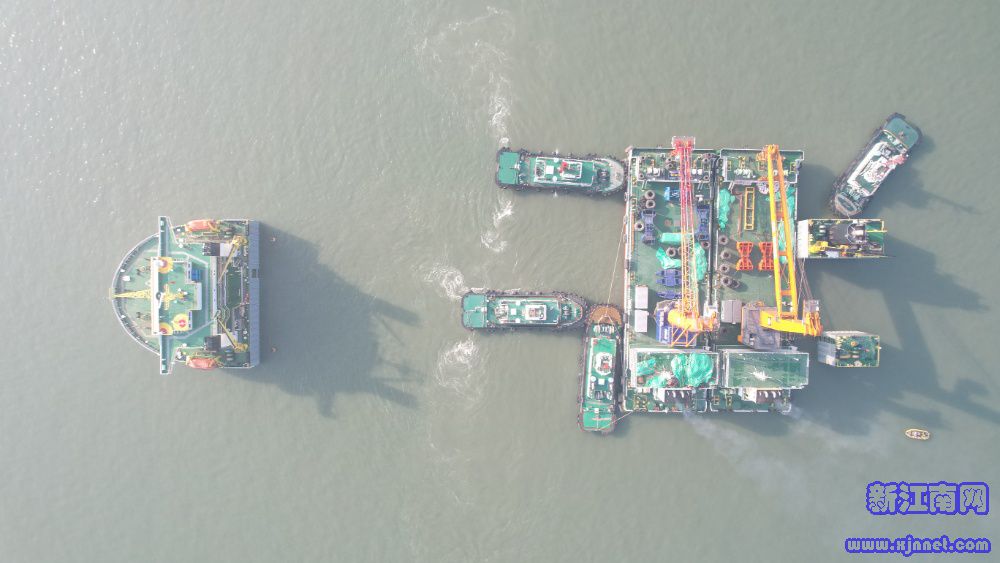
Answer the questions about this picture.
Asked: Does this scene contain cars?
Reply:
No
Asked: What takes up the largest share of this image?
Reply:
water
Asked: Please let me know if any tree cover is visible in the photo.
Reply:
No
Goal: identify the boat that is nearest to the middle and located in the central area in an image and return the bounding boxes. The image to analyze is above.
[460,289,591,333]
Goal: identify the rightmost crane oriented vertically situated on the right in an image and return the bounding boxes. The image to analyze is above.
[735,144,824,350]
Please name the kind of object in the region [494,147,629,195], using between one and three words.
boat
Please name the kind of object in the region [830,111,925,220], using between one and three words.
boat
